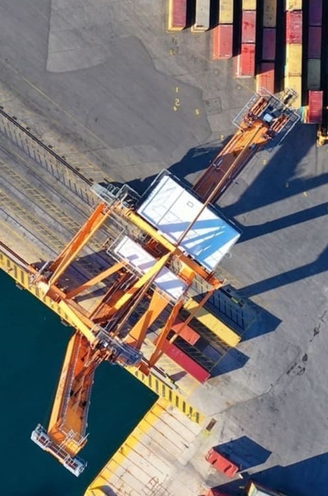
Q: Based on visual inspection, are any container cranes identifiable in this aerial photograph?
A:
Yes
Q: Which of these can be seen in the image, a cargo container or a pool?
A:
cargo container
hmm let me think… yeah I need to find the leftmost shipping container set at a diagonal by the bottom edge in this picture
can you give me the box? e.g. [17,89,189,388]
[204,443,239,474]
